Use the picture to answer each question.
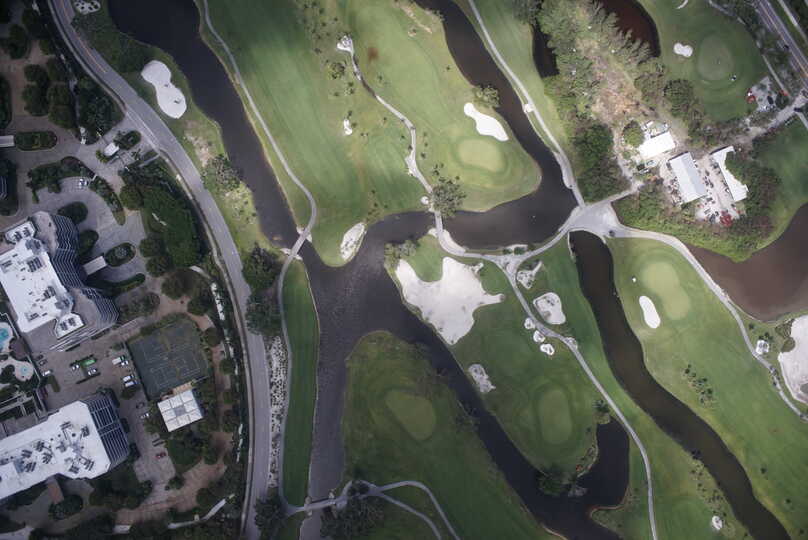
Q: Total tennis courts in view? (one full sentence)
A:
There is 1 tennis court in the image.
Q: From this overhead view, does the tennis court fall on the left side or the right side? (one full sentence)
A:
It is on the left.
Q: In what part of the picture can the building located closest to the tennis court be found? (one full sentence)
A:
The building located closest to the tennis court is in the bottom left part of the image.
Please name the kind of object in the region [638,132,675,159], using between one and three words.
shed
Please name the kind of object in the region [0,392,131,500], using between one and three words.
building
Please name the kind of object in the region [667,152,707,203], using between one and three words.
shed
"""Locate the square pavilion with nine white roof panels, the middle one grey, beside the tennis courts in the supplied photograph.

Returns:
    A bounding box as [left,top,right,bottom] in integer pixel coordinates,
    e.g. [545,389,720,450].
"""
[158,389,205,433]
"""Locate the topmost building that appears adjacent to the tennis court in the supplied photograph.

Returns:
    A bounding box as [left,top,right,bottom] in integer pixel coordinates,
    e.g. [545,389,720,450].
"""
[0,212,122,338]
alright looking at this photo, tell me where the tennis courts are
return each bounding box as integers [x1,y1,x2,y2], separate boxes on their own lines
[128,316,208,399]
